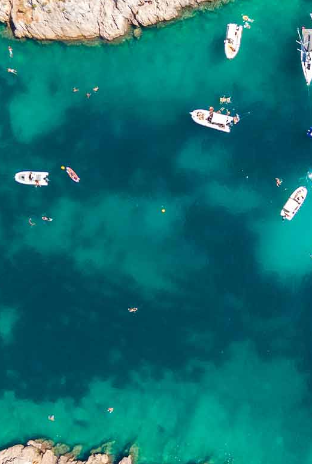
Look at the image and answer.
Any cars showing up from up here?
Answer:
No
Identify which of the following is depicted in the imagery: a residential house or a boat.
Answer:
boat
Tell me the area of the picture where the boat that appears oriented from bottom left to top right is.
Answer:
right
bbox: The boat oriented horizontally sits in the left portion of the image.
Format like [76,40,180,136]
[14,171,49,185]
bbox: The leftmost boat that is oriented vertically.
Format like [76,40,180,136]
[224,21,242,61]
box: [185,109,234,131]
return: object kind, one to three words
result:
boat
